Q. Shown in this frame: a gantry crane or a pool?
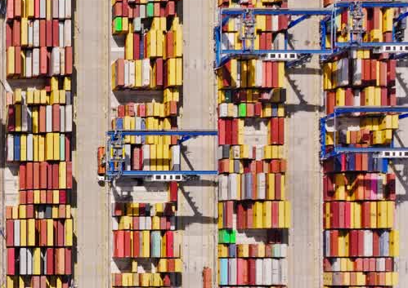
gantry crane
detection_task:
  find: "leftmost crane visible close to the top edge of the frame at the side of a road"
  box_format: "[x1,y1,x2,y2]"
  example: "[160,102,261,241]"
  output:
[215,7,333,75]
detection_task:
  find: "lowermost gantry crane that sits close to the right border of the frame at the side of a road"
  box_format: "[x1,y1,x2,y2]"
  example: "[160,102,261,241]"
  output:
[320,105,408,164]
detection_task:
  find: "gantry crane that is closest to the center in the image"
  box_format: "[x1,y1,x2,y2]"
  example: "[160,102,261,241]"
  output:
[105,129,217,186]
